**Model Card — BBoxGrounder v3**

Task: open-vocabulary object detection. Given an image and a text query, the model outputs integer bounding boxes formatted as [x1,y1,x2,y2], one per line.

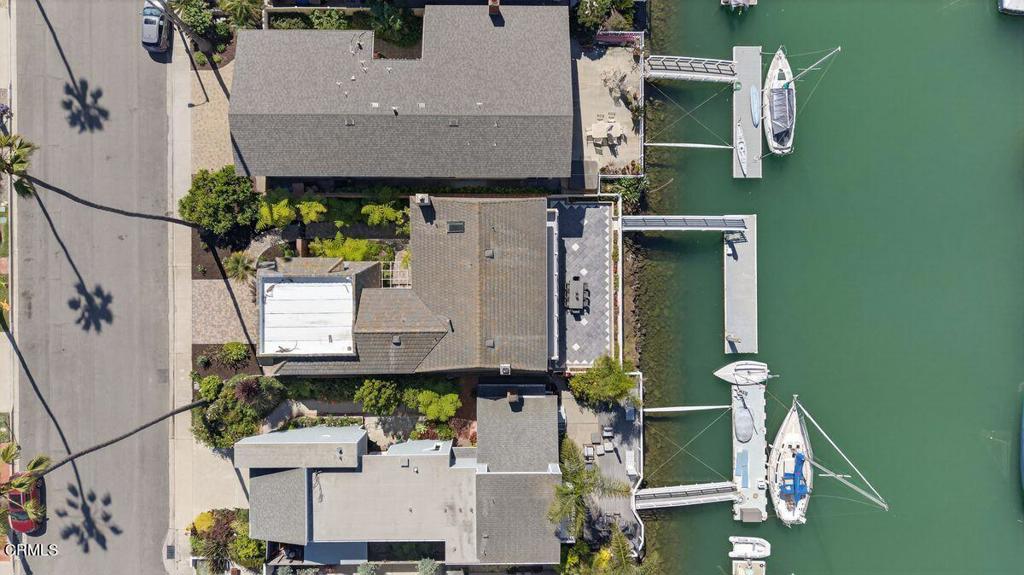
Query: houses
[253,192,558,376]
[235,379,571,566]
[228,0,574,181]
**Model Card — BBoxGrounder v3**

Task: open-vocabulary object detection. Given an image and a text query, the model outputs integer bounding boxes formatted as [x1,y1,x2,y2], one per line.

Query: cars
[5,469,42,534]
[138,0,173,53]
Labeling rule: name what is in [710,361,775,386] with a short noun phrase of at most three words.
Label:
boat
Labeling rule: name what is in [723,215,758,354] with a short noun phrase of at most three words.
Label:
pier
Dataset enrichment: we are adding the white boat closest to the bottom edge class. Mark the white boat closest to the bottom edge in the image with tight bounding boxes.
[729,536,771,558]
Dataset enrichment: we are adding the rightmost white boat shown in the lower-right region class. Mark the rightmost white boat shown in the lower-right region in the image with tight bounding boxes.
[765,397,888,525]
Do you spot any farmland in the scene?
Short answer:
No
